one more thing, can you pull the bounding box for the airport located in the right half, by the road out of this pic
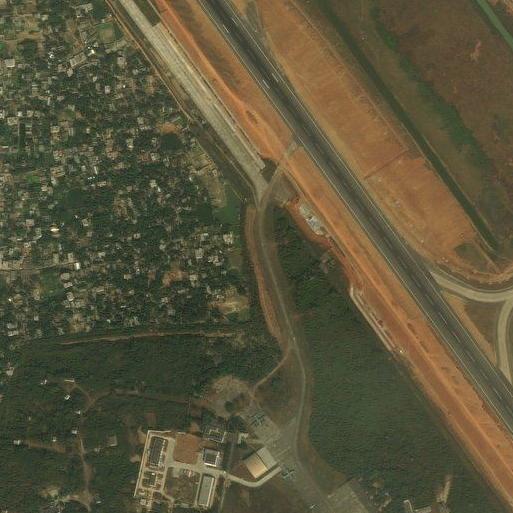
[195,0,513,438]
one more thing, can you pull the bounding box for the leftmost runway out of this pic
[120,0,300,205]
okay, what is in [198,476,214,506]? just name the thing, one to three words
building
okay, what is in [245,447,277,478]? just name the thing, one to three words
hangar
